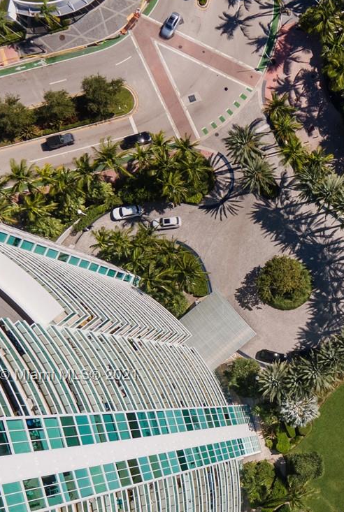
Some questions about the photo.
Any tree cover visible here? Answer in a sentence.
Yes, the picture does contain tree cover.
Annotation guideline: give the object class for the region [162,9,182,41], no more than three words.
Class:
car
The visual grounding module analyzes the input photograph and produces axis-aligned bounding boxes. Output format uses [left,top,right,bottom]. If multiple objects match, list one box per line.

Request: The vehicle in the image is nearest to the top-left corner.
[44,132,76,150]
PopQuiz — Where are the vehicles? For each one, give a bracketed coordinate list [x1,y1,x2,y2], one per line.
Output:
[121,132,154,150]
[162,9,182,41]
[44,132,76,150]
[111,204,143,221]
[151,215,181,228]
[254,348,286,362]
